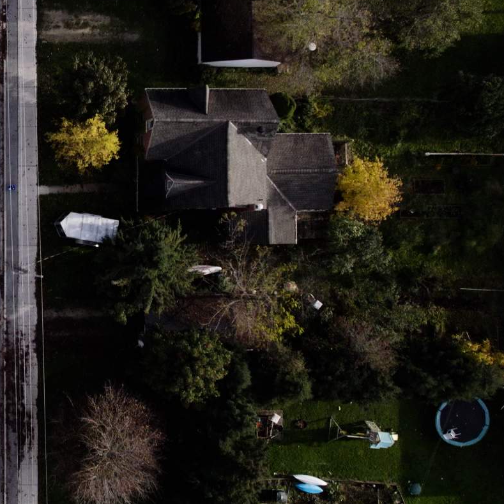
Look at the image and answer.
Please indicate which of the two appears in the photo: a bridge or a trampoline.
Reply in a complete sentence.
The image shows a trampoline.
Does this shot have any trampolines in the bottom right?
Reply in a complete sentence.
Yes, a trampoline can be seen in the bottom right.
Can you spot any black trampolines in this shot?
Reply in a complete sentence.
Yes, I can see a black trampoline in this picture.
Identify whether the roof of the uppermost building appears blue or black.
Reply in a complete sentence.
The roof of the uppermost building looks black in the image.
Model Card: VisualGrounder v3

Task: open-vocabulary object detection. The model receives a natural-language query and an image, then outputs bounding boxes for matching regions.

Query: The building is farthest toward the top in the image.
[193,0,280,66]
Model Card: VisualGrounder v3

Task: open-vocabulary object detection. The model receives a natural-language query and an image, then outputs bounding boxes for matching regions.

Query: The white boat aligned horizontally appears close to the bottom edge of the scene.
[293,474,328,487]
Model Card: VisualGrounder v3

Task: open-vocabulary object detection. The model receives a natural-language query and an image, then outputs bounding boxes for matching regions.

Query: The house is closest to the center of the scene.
[127,79,342,244]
